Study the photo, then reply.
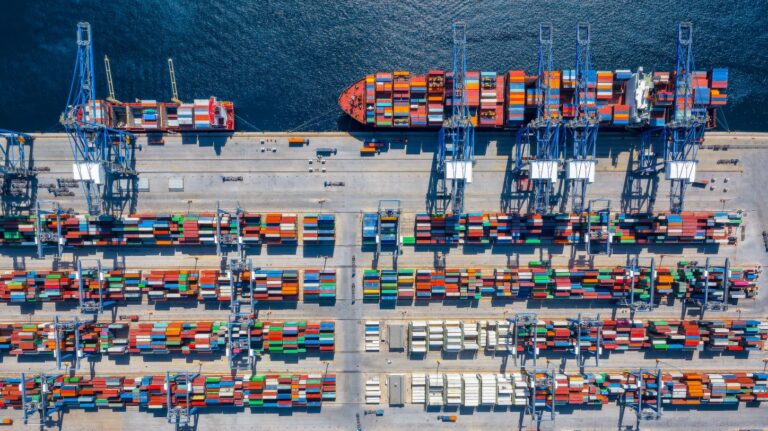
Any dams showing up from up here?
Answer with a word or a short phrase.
No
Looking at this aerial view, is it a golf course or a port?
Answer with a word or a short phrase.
port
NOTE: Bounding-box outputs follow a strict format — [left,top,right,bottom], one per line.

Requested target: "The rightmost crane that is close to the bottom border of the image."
[624,371,664,427]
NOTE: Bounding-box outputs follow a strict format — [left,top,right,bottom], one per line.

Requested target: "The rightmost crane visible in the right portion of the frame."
[688,259,731,314]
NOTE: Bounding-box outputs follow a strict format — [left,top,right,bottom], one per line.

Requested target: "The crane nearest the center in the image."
[374,200,404,256]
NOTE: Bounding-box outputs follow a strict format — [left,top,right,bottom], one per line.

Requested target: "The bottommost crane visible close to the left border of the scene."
[20,371,63,427]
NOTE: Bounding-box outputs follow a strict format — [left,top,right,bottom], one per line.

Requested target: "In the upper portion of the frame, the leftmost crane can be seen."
[0,129,35,172]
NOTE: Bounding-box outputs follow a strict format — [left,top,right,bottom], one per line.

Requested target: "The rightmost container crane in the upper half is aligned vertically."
[629,22,712,215]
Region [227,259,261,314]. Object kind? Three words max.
crane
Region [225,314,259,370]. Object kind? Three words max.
crane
